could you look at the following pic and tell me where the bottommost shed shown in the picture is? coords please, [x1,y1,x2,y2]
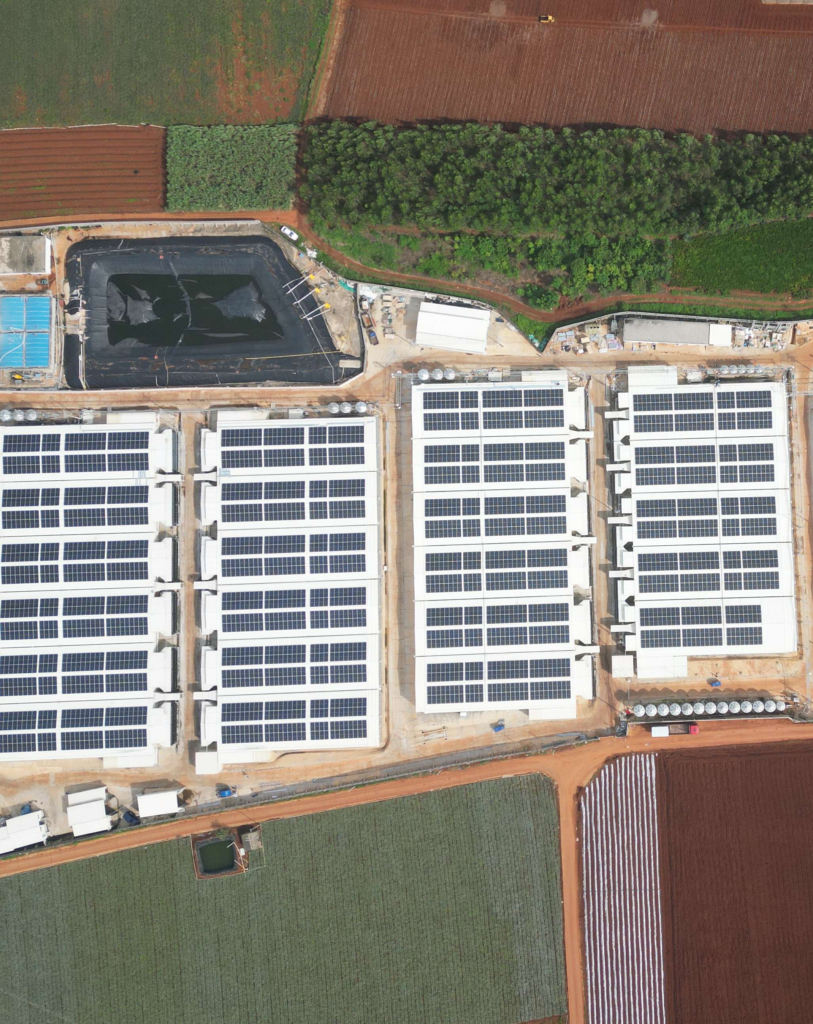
[241,828,262,851]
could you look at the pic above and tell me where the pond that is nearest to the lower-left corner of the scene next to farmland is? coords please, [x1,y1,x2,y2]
[194,833,242,876]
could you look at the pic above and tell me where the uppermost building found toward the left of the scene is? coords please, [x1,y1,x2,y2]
[0,236,51,277]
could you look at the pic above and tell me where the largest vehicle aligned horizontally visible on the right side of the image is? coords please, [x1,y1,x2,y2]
[653,726,701,739]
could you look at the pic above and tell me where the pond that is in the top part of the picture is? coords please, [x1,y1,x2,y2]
[63,234,362,390]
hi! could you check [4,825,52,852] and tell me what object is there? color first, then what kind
white truck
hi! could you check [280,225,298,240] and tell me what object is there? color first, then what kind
white car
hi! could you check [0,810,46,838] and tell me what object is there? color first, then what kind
white truck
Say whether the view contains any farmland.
Yes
